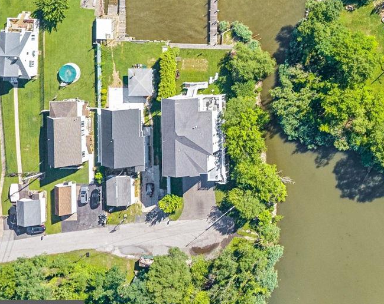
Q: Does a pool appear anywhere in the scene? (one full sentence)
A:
Yes, the photo shows a pool.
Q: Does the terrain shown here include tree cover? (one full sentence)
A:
Yes, some tree cover is visible.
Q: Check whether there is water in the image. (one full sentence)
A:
Yes, there is water in the image.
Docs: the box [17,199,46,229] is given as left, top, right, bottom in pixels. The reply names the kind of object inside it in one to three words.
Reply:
building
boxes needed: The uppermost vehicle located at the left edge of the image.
[11,183,24,201]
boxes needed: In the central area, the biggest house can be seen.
[161,81,229,183]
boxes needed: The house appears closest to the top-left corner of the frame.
[0,11,46,85]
